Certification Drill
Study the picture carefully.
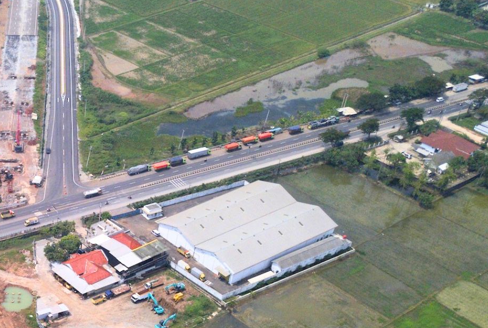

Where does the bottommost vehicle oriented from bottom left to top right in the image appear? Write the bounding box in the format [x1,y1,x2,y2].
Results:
[153,312,175,328]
